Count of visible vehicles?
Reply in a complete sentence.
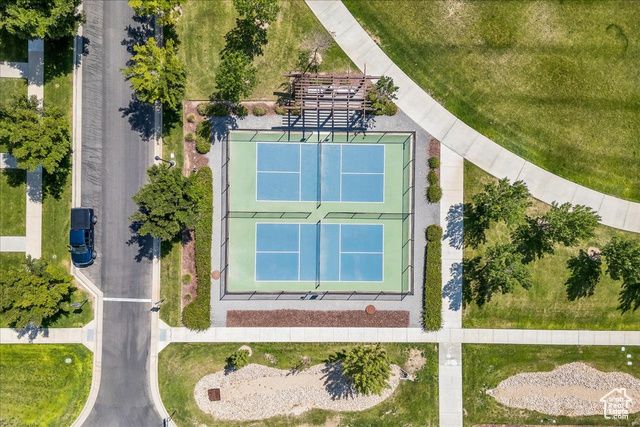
Only 1 vehicle is visible.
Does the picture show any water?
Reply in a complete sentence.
No, the scene doesn't show any water.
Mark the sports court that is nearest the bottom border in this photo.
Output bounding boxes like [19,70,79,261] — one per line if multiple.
[229,213,409,291]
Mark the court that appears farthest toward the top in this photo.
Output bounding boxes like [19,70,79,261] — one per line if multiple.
[230,133,410,214]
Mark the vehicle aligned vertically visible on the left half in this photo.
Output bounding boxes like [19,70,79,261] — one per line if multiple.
[68,208,96,267]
